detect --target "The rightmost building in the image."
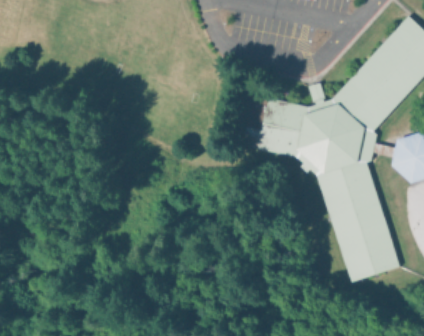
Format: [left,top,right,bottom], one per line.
[392,134,424,184]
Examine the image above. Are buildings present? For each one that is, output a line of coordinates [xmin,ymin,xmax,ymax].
[259,18,424,282]
[392,134,424,184]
